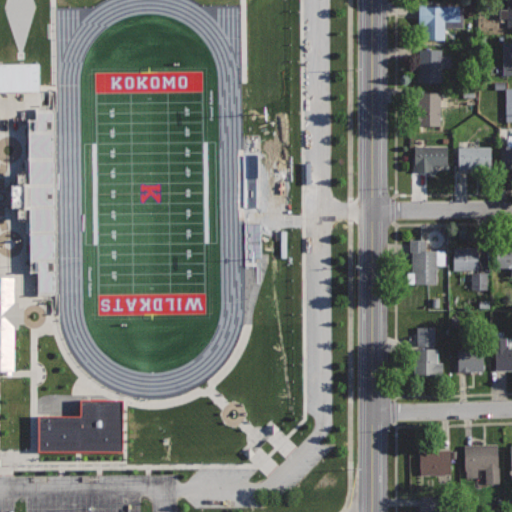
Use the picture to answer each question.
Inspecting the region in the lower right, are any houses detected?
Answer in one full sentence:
Yes, looking in the lower right, one can make out a house.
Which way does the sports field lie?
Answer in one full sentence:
In this picture, the sports field is oriented up and down.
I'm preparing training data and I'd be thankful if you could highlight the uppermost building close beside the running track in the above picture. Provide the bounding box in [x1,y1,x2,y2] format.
[0,64,40,92]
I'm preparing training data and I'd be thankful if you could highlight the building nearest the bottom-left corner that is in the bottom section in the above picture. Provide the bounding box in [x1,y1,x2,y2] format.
[38,402,124,458]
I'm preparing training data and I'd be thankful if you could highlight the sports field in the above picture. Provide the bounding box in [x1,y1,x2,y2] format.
[81,14,222,372]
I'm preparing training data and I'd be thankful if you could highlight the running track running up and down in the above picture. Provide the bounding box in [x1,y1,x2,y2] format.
[56,0,246,397]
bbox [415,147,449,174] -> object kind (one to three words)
house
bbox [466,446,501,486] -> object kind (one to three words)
house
